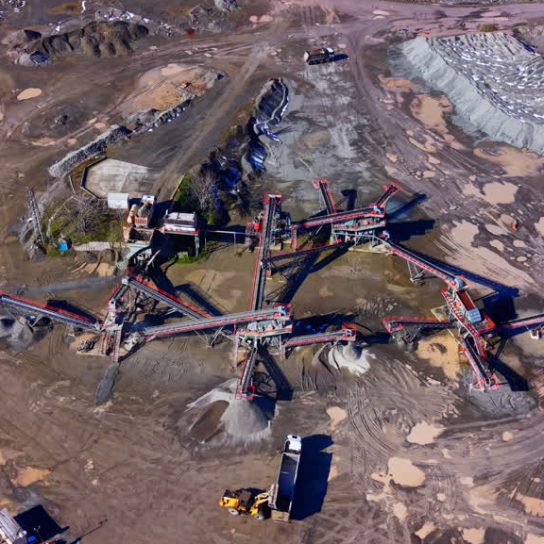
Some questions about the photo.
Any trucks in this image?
Yes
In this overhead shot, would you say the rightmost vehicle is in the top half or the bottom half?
top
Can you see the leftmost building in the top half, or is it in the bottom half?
bottom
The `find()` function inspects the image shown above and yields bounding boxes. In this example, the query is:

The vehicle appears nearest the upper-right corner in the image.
[304,46,335,66]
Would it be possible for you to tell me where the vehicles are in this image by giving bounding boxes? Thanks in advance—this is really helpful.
[270,437,303,520]
[217,490,281,522]
[304,46,335,66]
